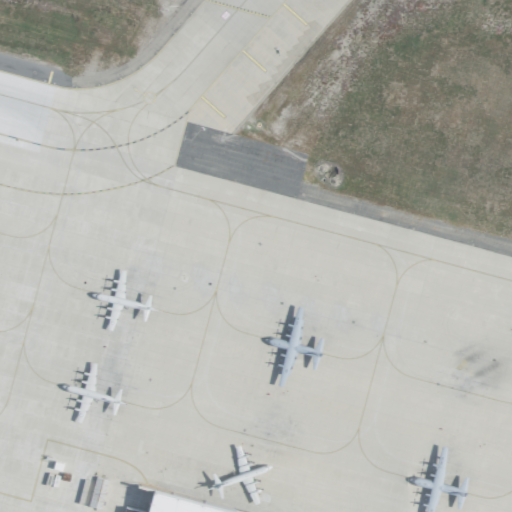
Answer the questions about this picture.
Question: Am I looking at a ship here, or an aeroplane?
aeroplane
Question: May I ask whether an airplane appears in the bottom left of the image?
Yes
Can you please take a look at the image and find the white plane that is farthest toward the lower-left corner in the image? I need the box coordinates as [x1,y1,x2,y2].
[62,363,128,424]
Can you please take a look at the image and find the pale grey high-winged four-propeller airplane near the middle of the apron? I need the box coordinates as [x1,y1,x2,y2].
[266,306,326,386]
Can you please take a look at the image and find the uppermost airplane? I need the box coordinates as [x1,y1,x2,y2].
[92,270,158,330]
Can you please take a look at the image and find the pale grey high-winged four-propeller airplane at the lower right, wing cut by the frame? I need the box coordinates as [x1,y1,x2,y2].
[410,447,470,512]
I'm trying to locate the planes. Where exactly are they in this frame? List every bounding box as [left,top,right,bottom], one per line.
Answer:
[62,363,128,424]
[266,306,326,386]
[410,447,470,512]
[210,446,274,506]
[92,270,158,330]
